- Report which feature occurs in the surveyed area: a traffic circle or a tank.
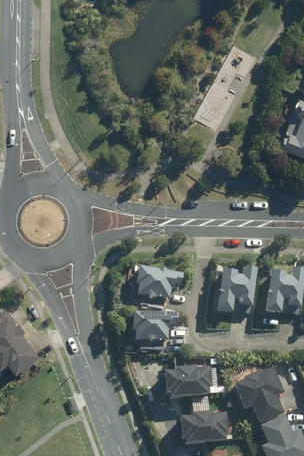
traffic circle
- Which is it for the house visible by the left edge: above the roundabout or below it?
below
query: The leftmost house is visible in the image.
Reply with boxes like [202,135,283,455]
[0,310,45,374]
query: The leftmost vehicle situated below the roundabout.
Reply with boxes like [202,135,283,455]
[28,303,40,320]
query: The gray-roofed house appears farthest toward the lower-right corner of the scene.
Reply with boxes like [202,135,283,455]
[260,414,304,456]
